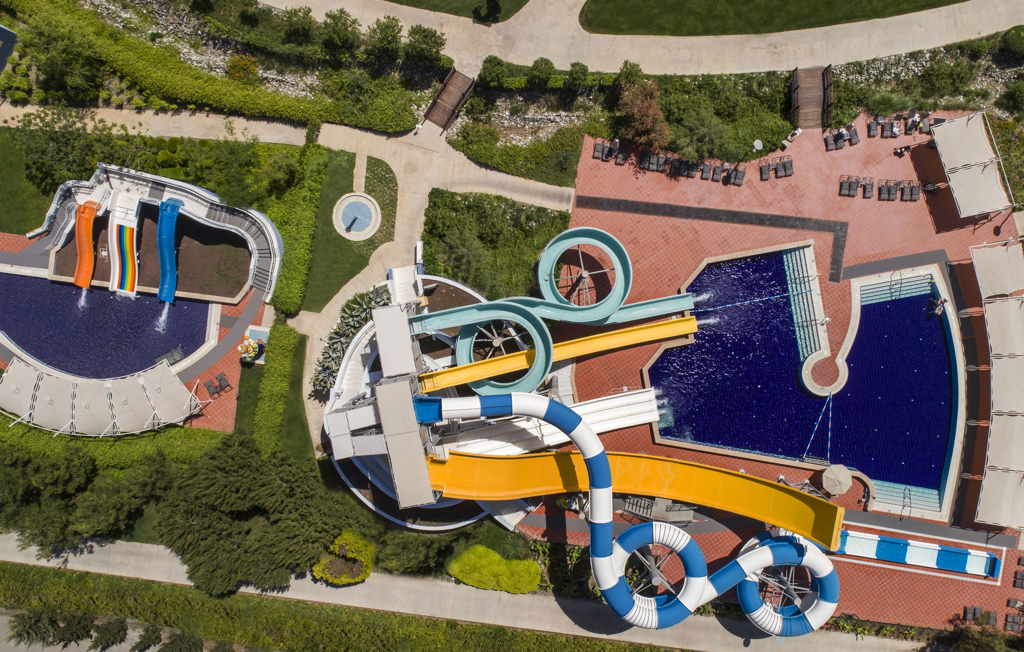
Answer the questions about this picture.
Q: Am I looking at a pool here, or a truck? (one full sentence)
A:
I can see a pool in this picture.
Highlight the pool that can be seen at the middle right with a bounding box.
[641,239,968,523]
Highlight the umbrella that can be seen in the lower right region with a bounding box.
[818,464,852,495]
